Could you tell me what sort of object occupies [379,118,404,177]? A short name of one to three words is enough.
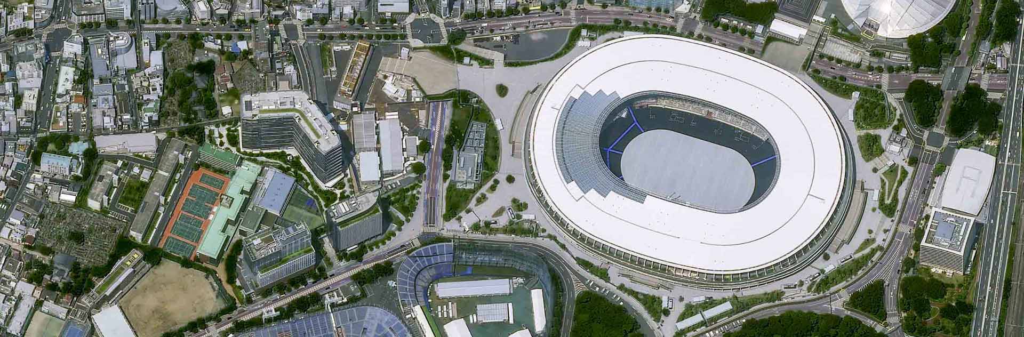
building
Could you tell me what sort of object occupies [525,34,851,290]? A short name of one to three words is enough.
stadium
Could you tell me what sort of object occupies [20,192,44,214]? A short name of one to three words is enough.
building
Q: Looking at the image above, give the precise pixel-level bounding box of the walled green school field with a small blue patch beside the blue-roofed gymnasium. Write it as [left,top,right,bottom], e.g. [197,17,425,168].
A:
[281,182,325,225]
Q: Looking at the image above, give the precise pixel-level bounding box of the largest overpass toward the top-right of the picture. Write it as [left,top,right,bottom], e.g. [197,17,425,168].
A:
[941,50,975,112]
